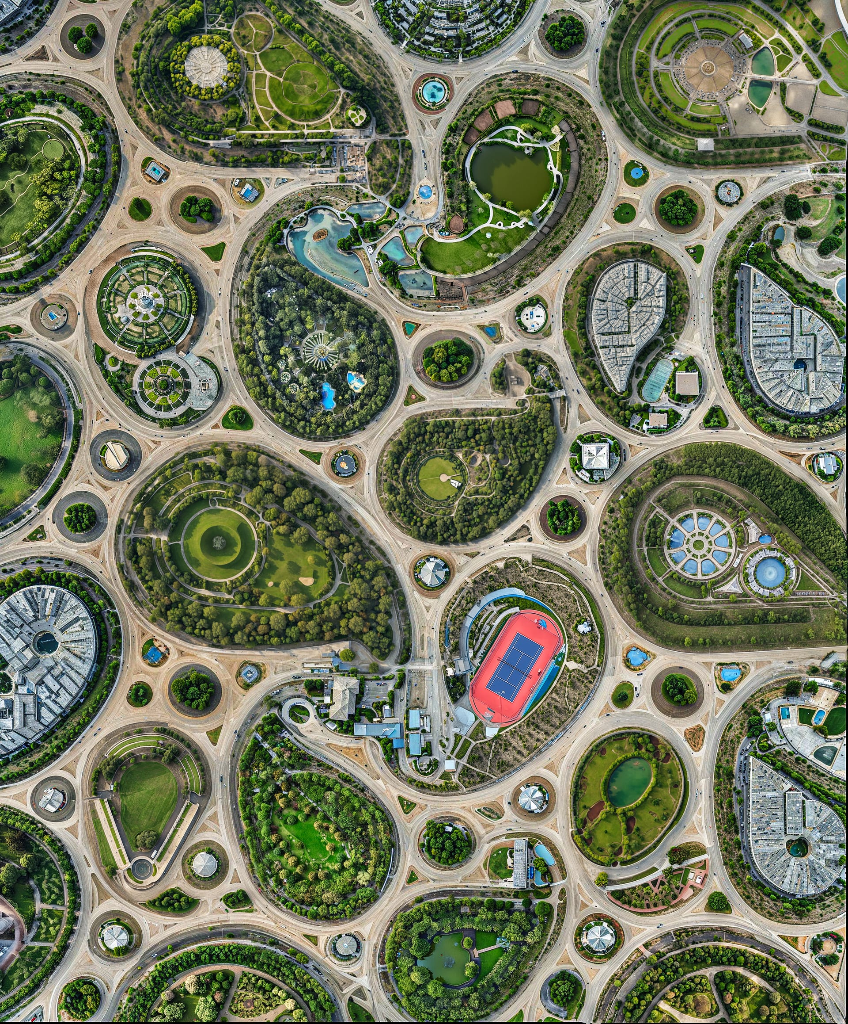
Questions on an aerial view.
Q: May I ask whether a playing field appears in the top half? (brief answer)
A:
No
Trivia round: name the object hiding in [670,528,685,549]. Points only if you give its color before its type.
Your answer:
blue swimming pool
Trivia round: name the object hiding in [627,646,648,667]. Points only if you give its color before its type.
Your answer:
blue swimming pool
